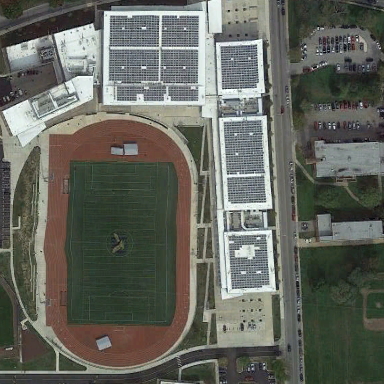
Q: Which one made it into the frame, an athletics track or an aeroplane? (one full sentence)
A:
The one in the frame is an athletics track.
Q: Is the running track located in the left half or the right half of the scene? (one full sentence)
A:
The running track is on the left side of the image.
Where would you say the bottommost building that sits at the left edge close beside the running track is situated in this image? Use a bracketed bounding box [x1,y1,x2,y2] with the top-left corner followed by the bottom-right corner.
[0,76,93,137]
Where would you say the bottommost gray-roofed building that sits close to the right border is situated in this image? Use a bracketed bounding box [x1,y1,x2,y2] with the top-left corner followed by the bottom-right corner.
[313,214,384,241]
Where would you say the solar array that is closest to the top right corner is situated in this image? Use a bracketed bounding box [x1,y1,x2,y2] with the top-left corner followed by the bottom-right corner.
[221,45,258,89]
